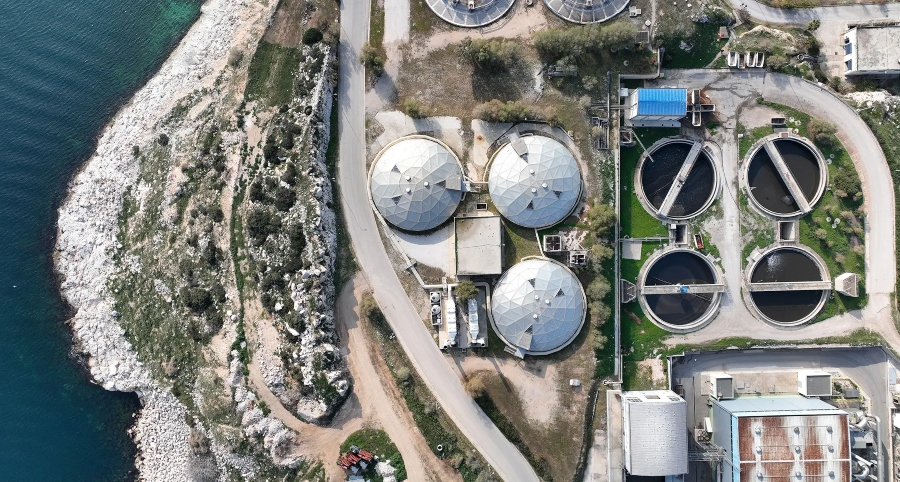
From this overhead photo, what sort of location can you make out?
industrial area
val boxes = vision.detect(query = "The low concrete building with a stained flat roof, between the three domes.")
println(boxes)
[456,218,502,275]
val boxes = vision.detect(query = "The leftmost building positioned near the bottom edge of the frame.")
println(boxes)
[621,392,690,482]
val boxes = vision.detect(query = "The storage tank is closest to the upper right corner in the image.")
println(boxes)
[740,134,828,221]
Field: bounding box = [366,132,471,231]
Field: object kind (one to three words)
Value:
storage tank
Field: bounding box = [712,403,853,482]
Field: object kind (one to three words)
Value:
building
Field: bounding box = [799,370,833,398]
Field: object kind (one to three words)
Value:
building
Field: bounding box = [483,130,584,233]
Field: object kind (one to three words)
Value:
storage tank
